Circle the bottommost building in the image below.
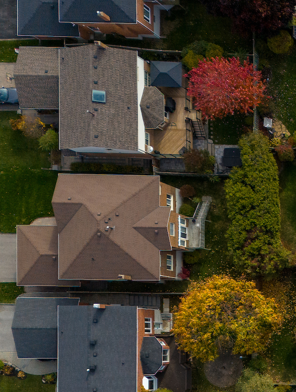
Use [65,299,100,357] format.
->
[6,297,170,392]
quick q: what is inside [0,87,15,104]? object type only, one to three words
car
